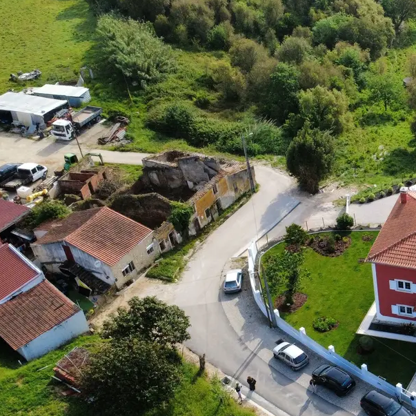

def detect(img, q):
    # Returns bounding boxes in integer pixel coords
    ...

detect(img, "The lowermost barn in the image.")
[0,277,88,366]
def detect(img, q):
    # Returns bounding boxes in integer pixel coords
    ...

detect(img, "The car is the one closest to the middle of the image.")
[220,267,244,299]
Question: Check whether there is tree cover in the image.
Yes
